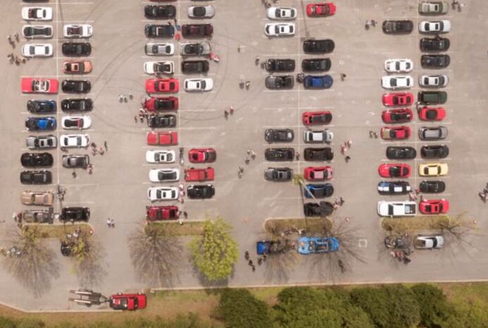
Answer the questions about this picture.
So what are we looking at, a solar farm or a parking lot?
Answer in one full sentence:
The picture captures a parking lot.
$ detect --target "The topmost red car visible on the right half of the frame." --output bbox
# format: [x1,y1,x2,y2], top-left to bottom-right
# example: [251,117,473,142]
[305,2,337,17]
